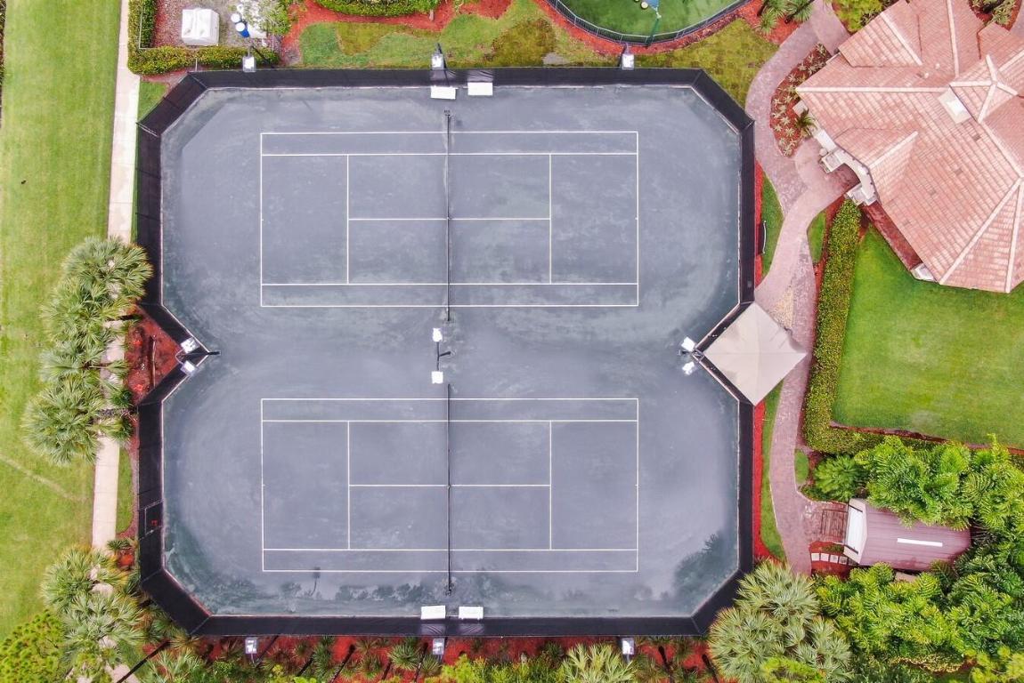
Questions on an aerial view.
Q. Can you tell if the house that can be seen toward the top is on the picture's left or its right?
right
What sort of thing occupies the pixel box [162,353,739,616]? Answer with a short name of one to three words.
tennis court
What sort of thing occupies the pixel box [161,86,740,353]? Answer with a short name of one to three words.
tennis court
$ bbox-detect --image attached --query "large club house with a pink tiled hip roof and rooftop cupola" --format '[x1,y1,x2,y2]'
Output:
[796,0,1024,293]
